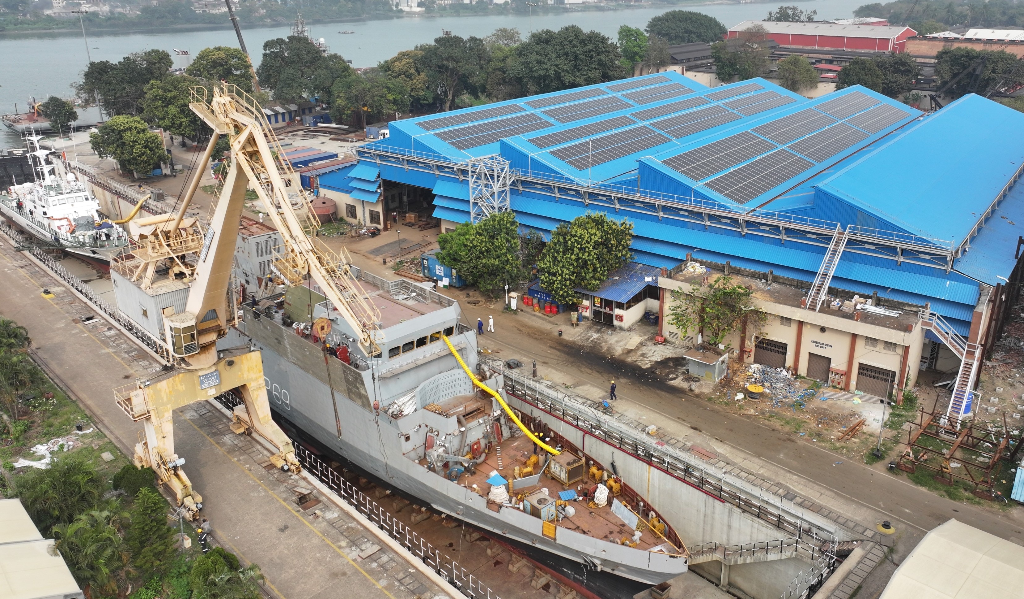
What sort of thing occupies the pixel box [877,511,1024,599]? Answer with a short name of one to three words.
tent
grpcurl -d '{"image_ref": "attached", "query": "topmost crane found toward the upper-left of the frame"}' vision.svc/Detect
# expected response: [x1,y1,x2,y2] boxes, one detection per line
[224,0,290,137]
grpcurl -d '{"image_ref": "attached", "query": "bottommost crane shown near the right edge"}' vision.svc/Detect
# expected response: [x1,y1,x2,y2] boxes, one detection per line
[938,34,1024,97]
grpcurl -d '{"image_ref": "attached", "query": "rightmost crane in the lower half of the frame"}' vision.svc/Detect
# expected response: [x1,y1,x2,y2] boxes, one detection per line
[433,450,478,478]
